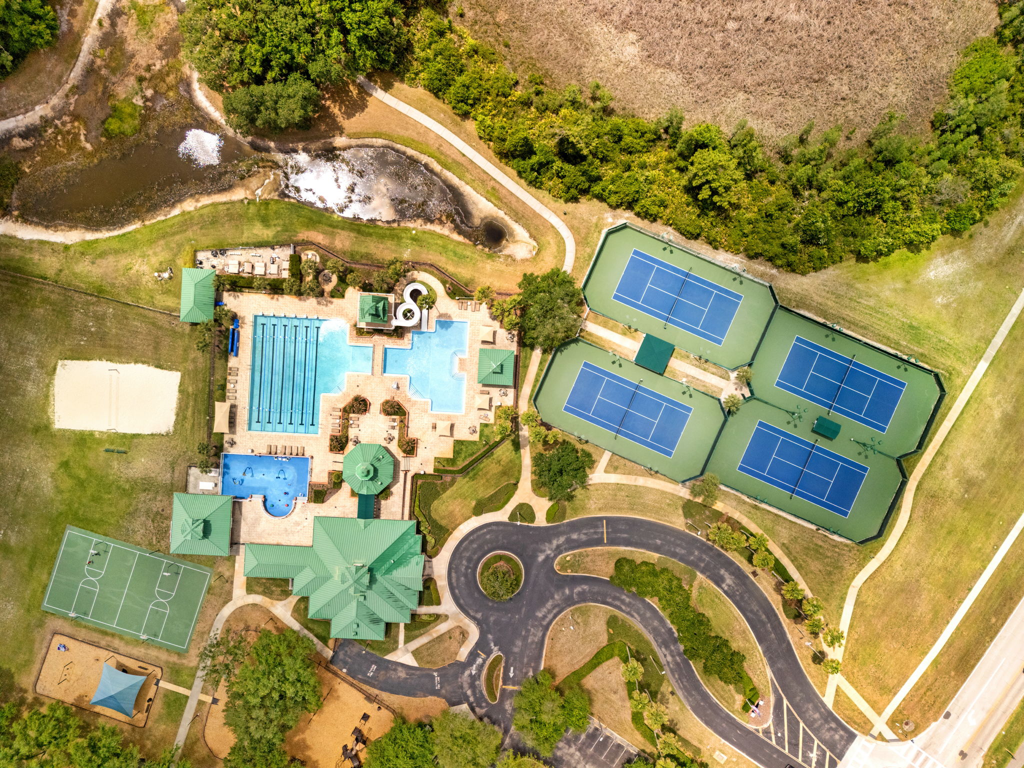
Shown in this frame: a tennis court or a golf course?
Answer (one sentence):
Visible in the photo is a tennis court.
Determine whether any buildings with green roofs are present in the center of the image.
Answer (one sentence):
Yes, a building with a green roof shows up in the center of the image.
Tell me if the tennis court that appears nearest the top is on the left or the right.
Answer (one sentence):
You can find the tennis court that appears nearest the top on the right side of the picture.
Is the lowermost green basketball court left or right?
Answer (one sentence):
The lowermost green basketball court is on the left side of the image.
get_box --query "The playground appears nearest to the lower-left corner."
[34,632,163,728]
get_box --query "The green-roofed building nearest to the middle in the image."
[477,348,515,386]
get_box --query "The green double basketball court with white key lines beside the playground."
[42,525,213,653]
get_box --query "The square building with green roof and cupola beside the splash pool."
[170,493,235,556]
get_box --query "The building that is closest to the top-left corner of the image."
[180,268,219,323]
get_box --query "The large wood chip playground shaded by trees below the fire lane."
[203,635,393,768]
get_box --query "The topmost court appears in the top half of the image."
[586,226,774,368]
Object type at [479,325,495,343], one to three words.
umbrella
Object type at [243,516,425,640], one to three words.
building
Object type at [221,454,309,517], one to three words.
swimming pool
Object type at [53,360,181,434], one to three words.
sports court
